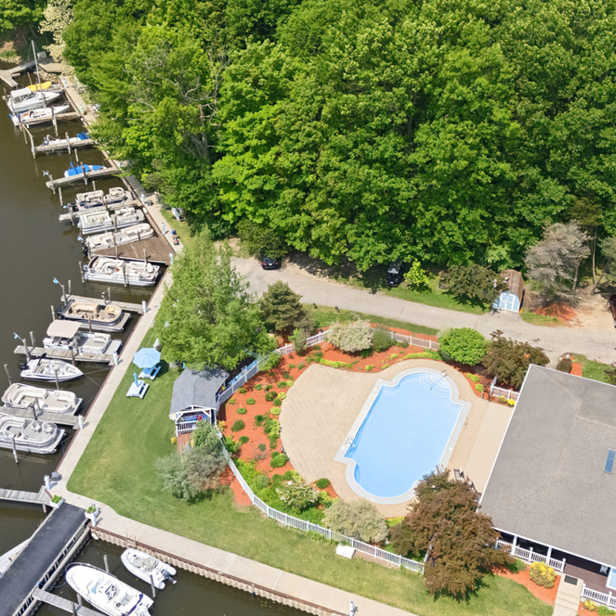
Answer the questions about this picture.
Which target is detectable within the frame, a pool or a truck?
pool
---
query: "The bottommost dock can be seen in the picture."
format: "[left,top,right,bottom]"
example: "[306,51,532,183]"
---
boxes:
[32,583,121,616]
